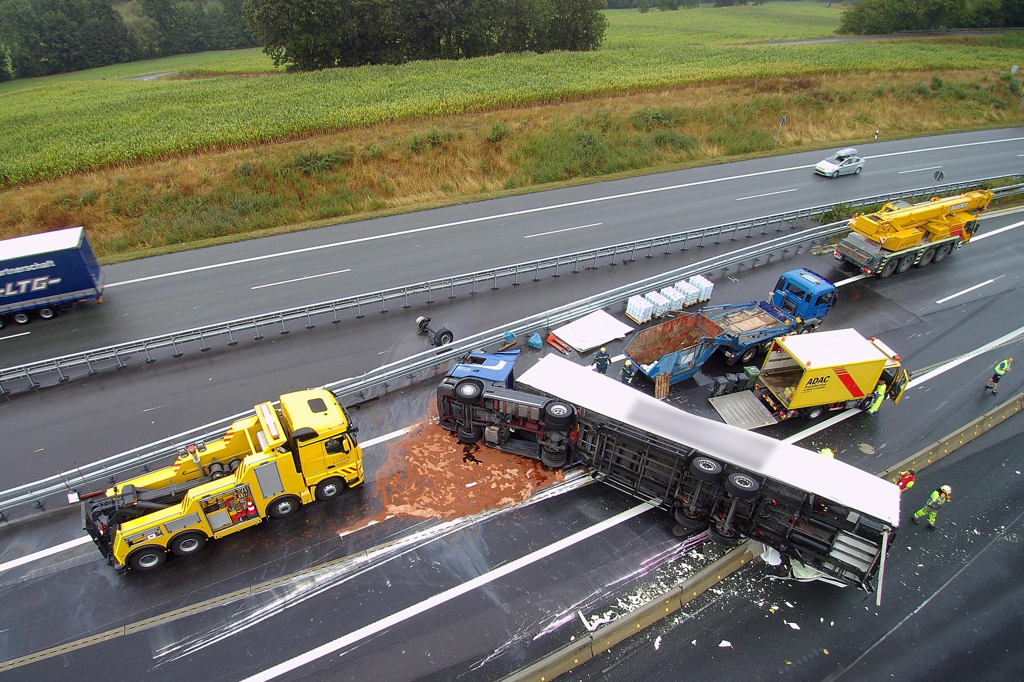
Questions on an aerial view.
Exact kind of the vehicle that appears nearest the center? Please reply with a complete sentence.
The vehicle that appears nearest the center can be classified as a truck.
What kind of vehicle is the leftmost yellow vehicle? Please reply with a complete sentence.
It turns out the leftmost yellow vehicle is a truck.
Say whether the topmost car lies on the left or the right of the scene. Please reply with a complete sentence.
It is on the right.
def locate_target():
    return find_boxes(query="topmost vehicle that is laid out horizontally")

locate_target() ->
[814,149,867,177]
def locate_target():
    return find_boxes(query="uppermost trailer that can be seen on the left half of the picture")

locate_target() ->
[0,228,109,330]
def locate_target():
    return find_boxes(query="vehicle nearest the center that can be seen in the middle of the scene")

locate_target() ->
[431,354,584,465]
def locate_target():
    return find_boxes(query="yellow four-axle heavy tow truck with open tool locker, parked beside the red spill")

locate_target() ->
[89,392,366,576]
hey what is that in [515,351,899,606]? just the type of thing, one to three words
trailer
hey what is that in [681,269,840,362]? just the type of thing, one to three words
vehicle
